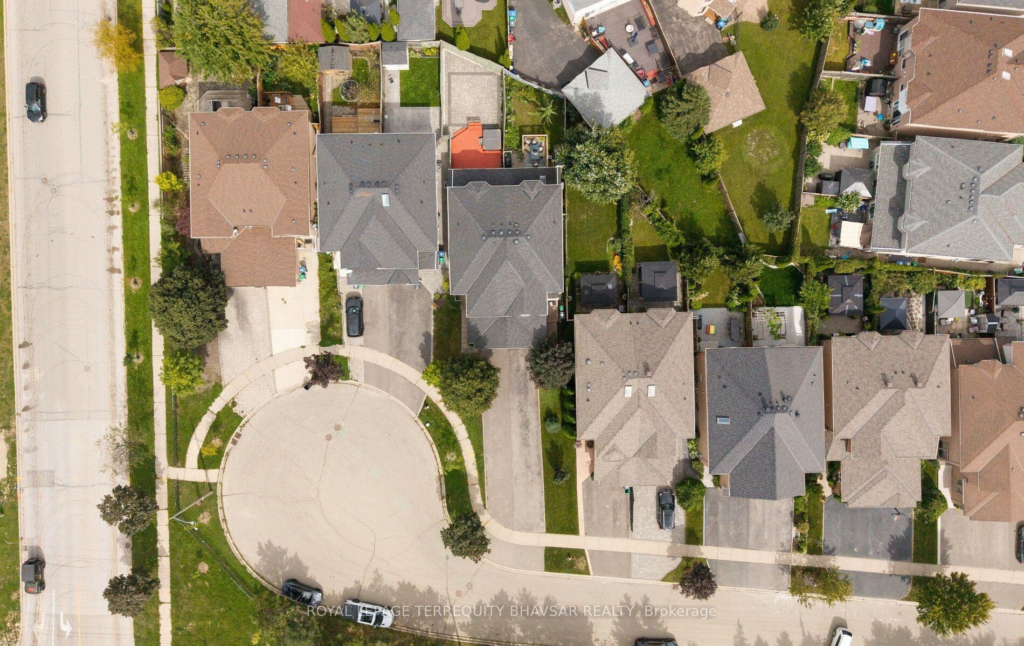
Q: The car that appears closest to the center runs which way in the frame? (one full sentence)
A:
From this overhead view, the car that appears closest to the center appears to run up and down.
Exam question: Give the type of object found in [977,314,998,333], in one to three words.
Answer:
shed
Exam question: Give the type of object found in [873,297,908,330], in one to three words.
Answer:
gazebo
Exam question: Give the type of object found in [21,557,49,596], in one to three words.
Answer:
car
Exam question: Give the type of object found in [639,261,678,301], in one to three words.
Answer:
gazebo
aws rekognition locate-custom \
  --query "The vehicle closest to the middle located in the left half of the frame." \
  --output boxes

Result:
[344,296,364,337]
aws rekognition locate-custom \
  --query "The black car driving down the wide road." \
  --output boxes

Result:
[24,82,50,124]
